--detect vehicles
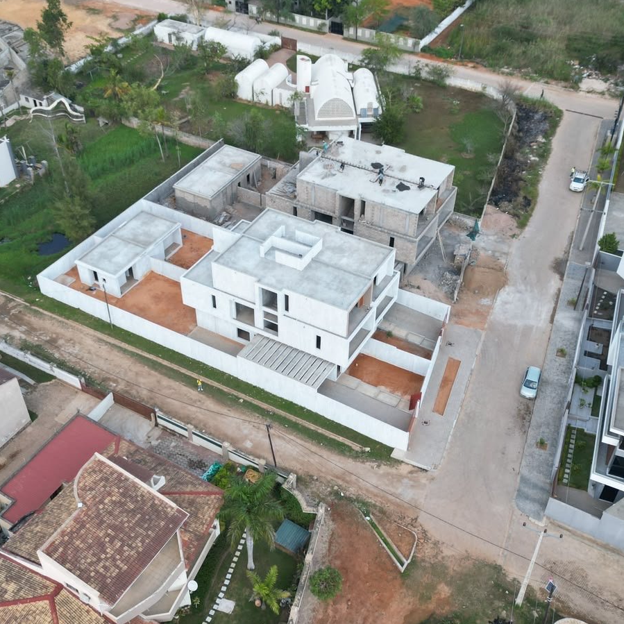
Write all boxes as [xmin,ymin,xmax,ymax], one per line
[520,364,543,398]
[570,170,587,194]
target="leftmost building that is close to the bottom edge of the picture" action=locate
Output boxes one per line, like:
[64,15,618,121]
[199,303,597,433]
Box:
[0,411,224,624]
